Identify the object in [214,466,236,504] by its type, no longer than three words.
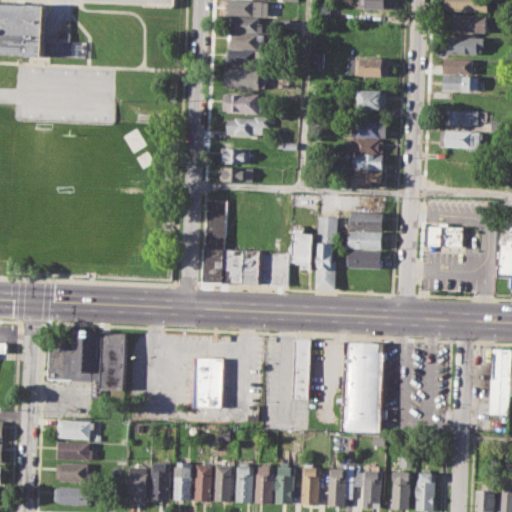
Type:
house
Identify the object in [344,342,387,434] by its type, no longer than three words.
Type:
building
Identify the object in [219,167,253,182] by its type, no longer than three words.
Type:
house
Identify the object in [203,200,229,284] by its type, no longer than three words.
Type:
building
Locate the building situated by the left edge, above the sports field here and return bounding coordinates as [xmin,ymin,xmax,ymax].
[0,4,42,58]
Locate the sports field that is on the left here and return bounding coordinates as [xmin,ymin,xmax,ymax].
[0,122,170,280]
